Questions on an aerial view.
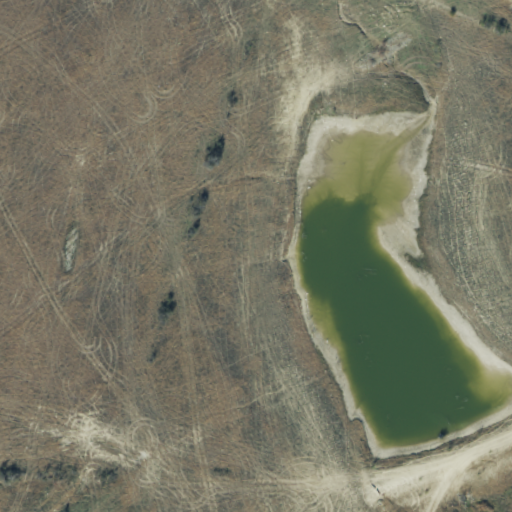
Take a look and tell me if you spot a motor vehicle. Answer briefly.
No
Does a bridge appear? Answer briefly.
No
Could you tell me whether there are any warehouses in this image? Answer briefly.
No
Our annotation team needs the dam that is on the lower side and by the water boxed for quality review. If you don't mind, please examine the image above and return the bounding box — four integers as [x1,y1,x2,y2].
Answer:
[374,415,512,468]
